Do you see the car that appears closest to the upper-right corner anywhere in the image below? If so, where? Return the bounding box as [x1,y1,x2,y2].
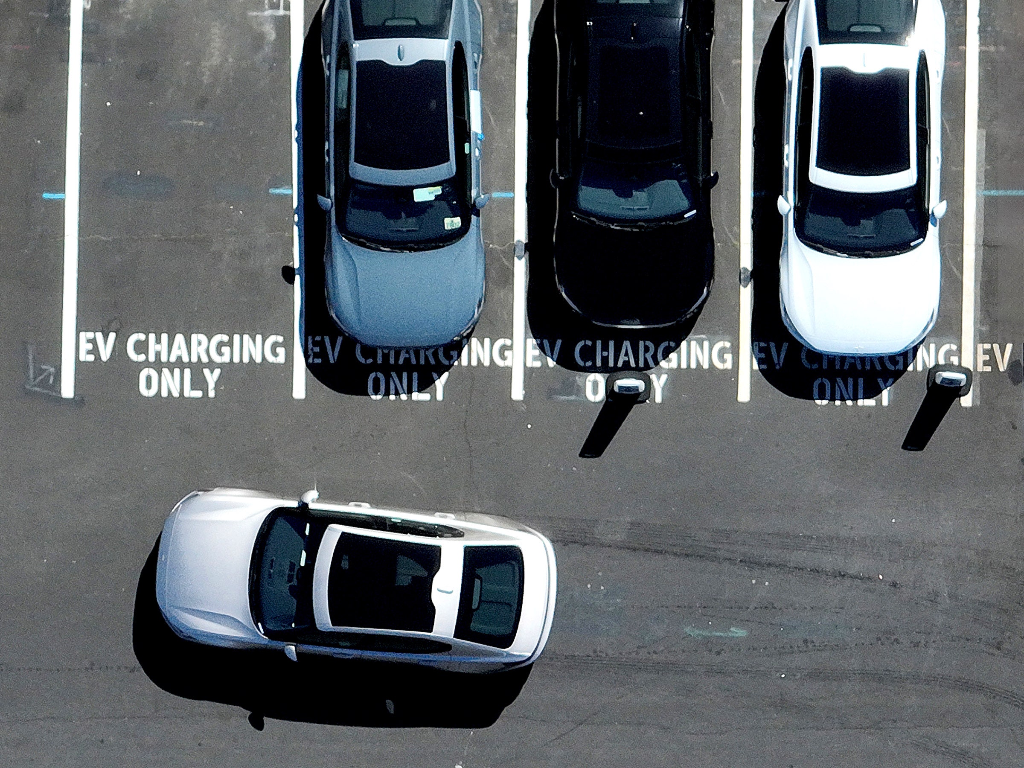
[775,0,948,356]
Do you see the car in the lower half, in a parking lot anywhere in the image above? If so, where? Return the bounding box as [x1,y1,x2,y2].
[154,485,560,674]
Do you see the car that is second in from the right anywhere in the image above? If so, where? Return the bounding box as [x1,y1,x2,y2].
[547,0,721,329]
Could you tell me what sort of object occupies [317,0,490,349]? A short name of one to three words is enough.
car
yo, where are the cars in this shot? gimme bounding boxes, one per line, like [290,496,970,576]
[154,485,560,674]
[775,0,948,356]
[317,0,490,349]
[547,0,721,329]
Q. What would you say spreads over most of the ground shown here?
paved ground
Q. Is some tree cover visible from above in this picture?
No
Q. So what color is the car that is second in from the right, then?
black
